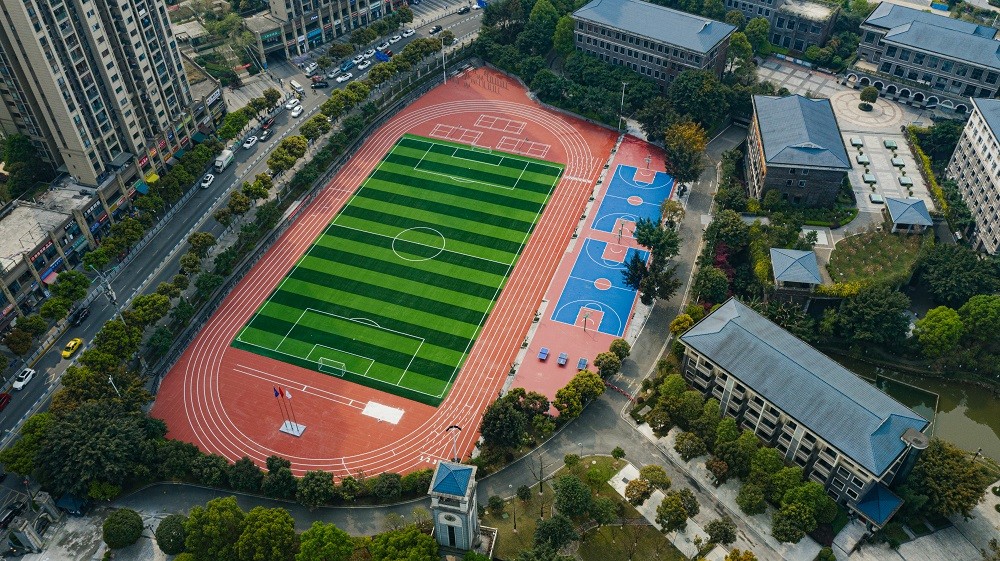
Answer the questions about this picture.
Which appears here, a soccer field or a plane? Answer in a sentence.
The one in the frame is a soccer field.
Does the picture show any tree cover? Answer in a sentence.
Yes, tree cover can be seen from above here.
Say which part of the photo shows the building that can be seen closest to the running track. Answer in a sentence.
You can find the building that can be seen closest to the running track in the bottom area of the picture.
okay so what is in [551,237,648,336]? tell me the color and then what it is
blue basketball court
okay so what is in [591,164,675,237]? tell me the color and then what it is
blue basketball court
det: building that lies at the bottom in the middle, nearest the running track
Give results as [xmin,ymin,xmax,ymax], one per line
[433,465,478,547]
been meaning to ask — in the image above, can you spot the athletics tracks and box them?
[153,68,623,491]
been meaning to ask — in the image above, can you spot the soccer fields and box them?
[229,134,564,406]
